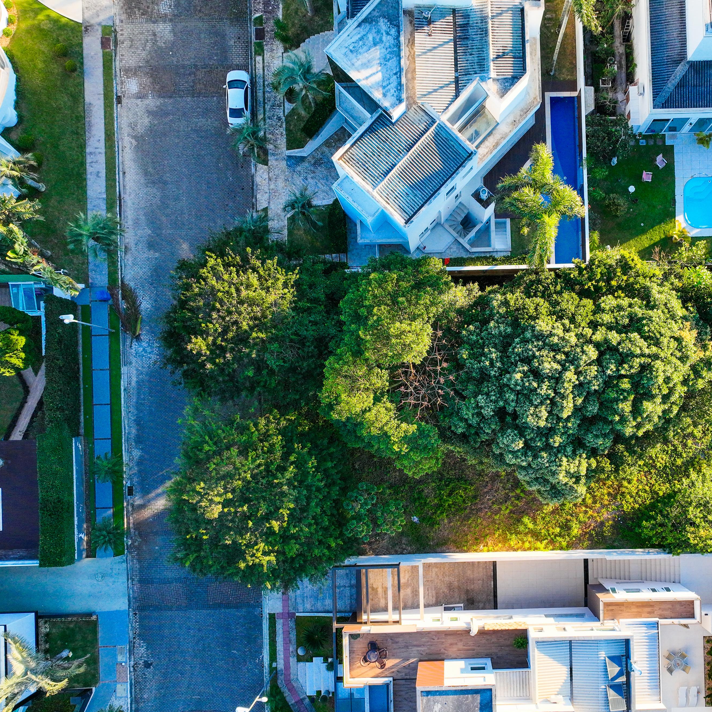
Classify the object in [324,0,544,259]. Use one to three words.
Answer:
house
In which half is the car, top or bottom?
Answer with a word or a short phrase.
top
